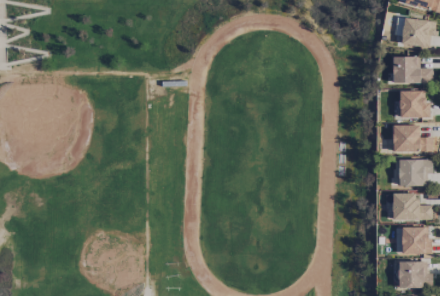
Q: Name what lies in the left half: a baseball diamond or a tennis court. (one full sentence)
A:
Looking in the left half, you will find a baseball diamond.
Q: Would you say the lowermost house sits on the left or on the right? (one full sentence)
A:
The lowermost house is on the right side of the image.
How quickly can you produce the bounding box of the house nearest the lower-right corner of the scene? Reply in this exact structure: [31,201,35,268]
[399,261,433,288]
